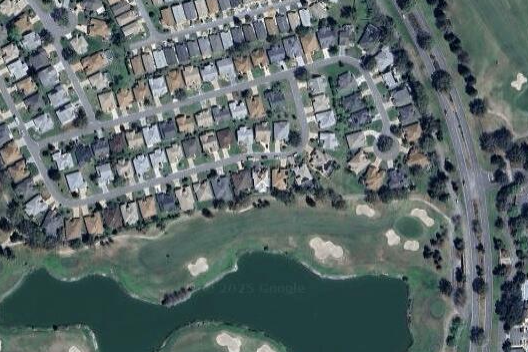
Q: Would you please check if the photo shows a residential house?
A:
Yes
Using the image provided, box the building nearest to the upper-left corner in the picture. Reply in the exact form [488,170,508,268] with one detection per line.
[0,0,27,18]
